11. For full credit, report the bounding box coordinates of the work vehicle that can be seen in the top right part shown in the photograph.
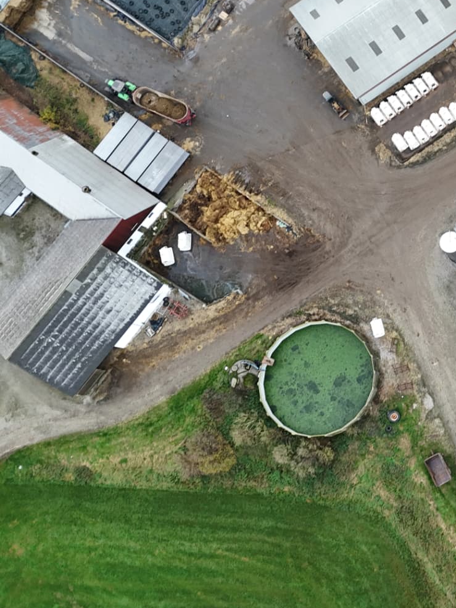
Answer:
[326,94,350,121]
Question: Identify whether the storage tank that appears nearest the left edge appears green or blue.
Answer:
green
